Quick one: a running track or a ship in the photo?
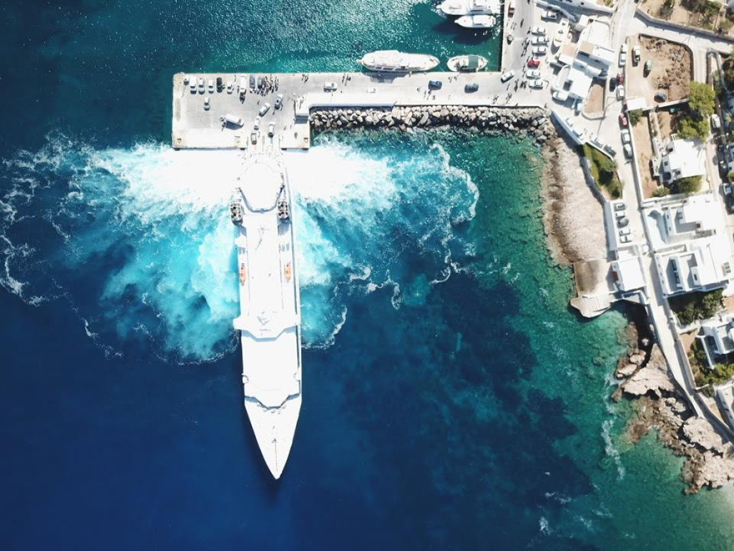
ship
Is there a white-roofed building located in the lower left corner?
No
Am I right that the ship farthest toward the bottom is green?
No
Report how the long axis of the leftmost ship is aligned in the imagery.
up and down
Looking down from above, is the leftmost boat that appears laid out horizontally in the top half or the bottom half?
top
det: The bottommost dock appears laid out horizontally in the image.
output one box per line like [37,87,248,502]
[172,72,548,150]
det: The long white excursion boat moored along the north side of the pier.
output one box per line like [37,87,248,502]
[359,49,439,72]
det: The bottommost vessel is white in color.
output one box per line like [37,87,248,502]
[231,135,301,479]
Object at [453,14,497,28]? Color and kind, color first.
white boat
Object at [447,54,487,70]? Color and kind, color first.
white boat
